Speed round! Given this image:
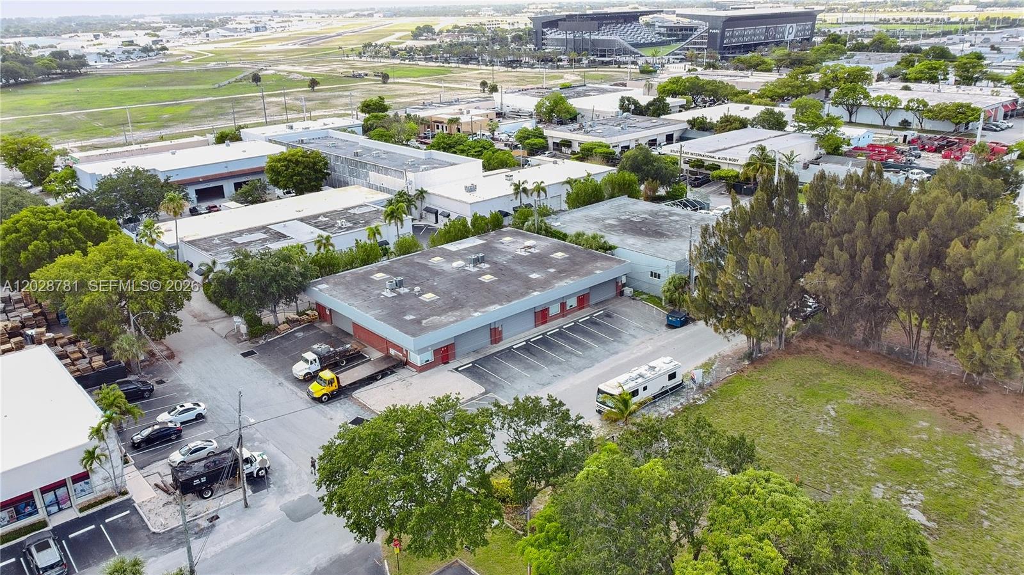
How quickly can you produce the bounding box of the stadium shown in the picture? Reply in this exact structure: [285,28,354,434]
[515,9,829,62]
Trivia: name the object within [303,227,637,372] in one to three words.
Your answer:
building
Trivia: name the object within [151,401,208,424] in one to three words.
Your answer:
car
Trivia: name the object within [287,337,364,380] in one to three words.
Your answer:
truck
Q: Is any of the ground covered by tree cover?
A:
Yes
